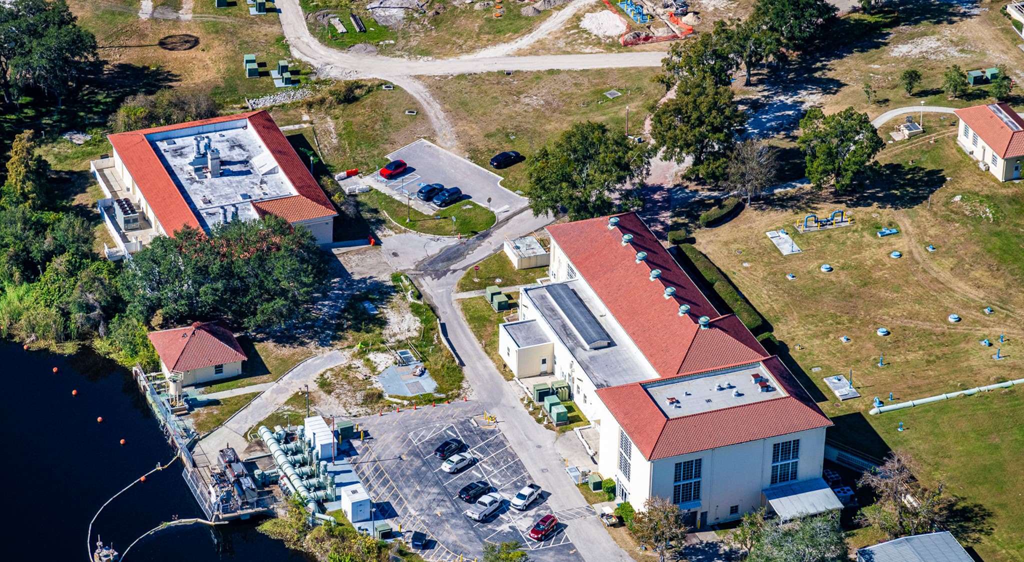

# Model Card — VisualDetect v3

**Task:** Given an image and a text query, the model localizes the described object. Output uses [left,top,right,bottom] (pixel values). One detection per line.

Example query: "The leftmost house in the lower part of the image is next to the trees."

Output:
[147,321,247,384]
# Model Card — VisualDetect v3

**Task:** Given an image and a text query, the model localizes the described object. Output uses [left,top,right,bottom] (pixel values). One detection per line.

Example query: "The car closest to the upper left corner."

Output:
[379,158,409,178]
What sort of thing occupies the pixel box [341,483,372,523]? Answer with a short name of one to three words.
shed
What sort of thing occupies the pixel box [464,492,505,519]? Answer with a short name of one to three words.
truck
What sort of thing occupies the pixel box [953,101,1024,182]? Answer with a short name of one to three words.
building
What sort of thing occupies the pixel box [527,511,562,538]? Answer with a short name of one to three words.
car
